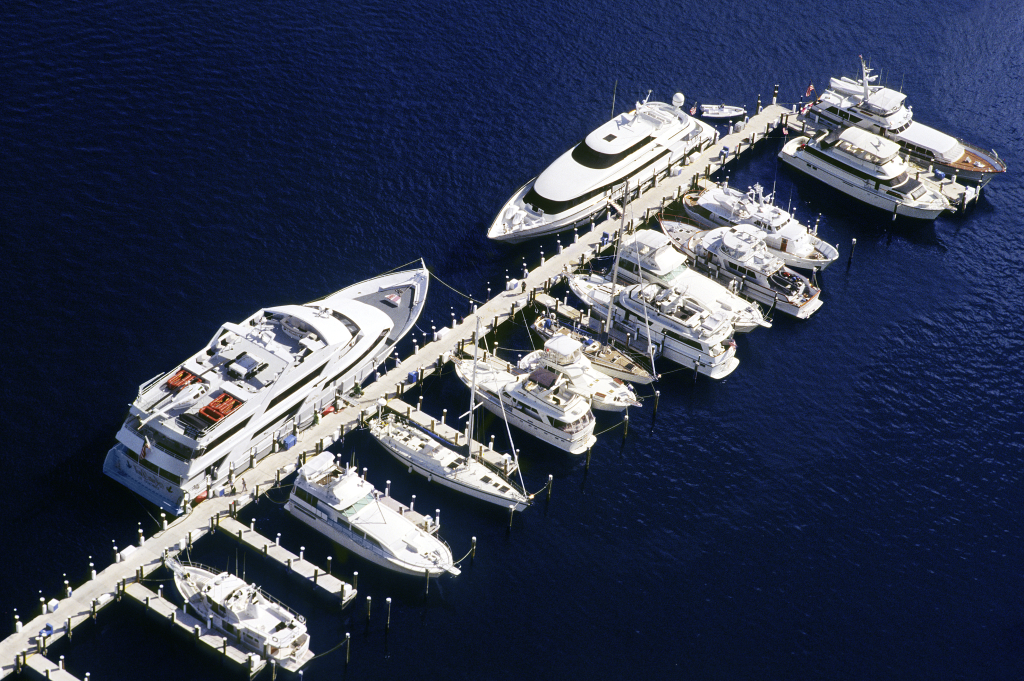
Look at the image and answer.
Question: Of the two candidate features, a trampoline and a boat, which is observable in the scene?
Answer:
boat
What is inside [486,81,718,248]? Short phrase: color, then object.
white boat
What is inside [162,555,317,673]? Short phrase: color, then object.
white boat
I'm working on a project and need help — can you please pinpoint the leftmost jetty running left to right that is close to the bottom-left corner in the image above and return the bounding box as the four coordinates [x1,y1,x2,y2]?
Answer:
[22,657,79,681]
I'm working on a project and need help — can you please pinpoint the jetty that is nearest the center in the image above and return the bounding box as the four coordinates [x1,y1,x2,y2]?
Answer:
[464,344,533,378]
